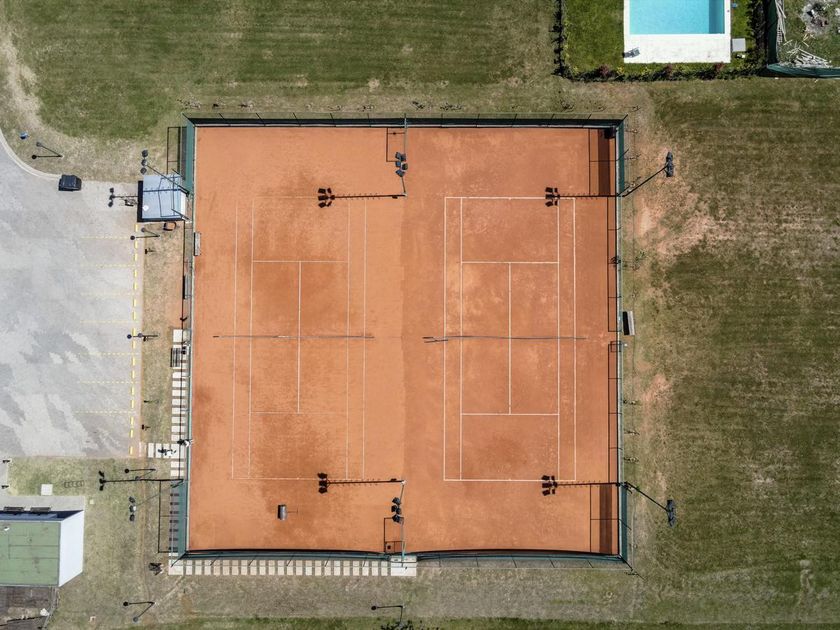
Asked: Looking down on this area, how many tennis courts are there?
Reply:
2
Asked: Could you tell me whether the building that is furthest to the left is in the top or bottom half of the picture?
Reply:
bottom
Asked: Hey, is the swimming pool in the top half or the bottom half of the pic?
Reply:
top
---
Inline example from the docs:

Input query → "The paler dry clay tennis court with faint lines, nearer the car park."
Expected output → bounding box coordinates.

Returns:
[187,128,404,553]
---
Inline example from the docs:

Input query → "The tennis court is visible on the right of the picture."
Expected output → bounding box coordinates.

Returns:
[404,128,619,553]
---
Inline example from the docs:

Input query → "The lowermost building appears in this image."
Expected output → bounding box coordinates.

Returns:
[0,511,83,590]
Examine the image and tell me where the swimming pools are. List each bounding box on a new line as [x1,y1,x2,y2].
[623,0,735,62]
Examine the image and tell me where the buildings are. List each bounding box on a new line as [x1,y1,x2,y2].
[144,174,186,222]
[0,511,83,590]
